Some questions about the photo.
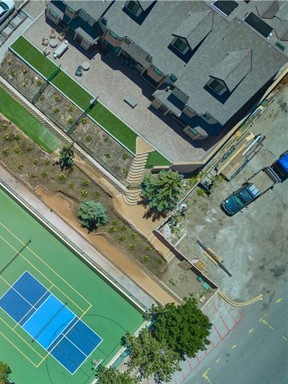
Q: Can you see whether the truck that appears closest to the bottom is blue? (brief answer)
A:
Yes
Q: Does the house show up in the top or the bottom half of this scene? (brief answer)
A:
top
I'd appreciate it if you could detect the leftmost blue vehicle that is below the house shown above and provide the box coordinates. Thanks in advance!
[218,182,261,214]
